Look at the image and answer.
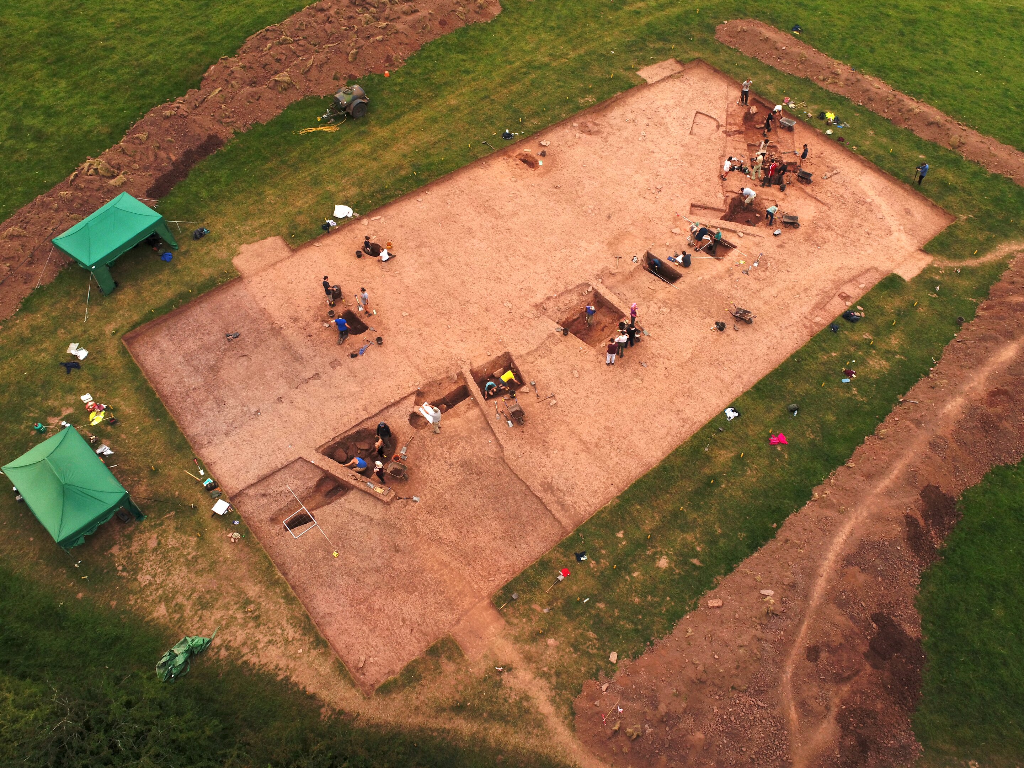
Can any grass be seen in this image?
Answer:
Yes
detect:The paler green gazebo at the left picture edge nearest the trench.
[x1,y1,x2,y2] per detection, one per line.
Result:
[1,425,193,582]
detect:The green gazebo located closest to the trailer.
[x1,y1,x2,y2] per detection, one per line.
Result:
[19,193,209,322]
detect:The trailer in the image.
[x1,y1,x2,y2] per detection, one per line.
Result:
[317,79,368,123]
